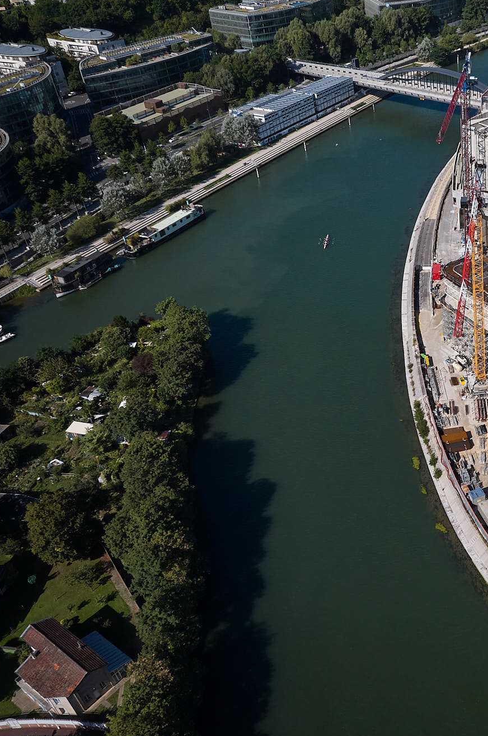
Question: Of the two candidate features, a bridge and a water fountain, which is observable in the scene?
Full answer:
Of the two, only a bridge appears.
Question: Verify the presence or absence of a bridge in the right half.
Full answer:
Yes, looking in the right half, one can make out a bridge.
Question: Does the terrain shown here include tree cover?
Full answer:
Yes, tree cover shows up in the scene.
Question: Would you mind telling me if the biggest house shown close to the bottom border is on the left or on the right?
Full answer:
The biggest house shown close to the bottom border is on the left side of the image.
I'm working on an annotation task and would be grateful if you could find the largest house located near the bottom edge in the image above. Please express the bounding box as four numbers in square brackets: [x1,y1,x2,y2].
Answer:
[13,618,130,717]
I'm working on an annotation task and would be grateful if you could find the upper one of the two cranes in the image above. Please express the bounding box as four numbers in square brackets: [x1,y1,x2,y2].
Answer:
[434,55,476,254]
